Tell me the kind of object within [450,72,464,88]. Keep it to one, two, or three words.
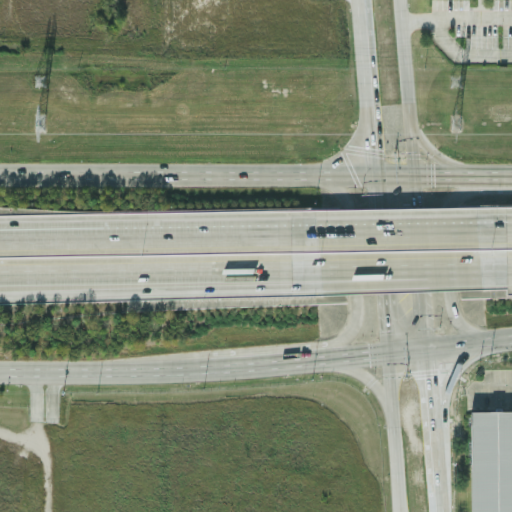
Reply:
pylon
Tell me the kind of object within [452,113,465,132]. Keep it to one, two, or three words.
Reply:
pylon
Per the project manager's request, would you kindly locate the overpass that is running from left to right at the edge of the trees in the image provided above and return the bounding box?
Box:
[0,206,512,309]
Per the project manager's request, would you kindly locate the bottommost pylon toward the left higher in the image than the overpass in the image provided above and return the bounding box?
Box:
[33,113,46,132]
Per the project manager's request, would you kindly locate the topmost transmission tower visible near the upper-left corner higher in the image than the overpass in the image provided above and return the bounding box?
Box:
[34,72,48,88]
